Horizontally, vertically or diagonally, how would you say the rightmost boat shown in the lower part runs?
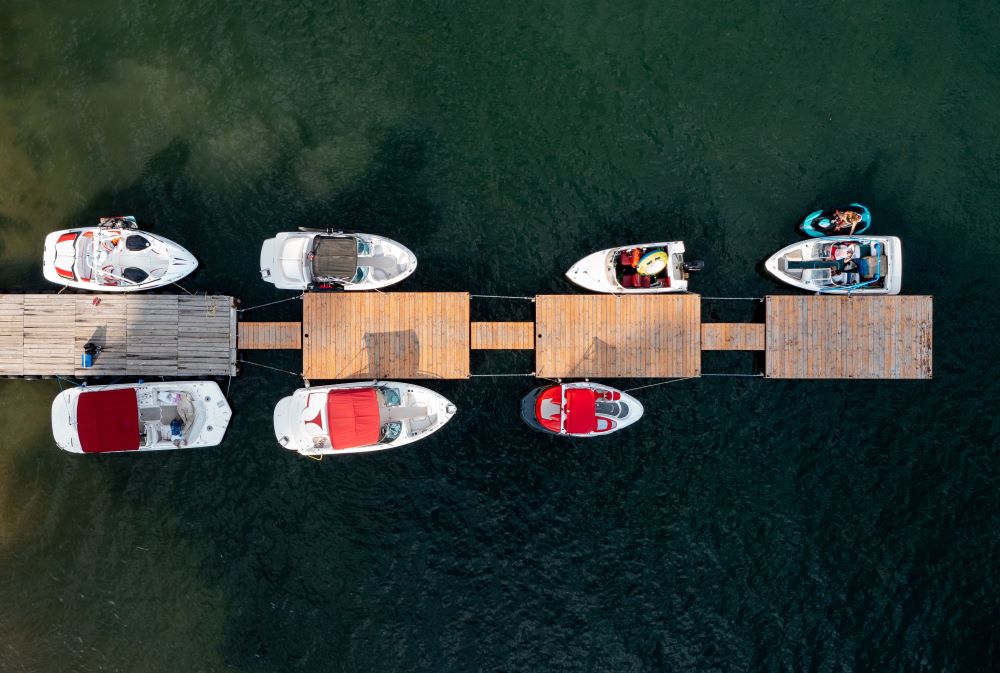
horizontally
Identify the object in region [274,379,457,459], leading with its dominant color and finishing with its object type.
white boat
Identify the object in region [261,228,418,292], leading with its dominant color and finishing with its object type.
white boat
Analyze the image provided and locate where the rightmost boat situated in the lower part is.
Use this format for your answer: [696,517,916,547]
[520,378,645,438]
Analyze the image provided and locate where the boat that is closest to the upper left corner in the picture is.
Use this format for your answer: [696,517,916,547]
[44,216,198,292]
